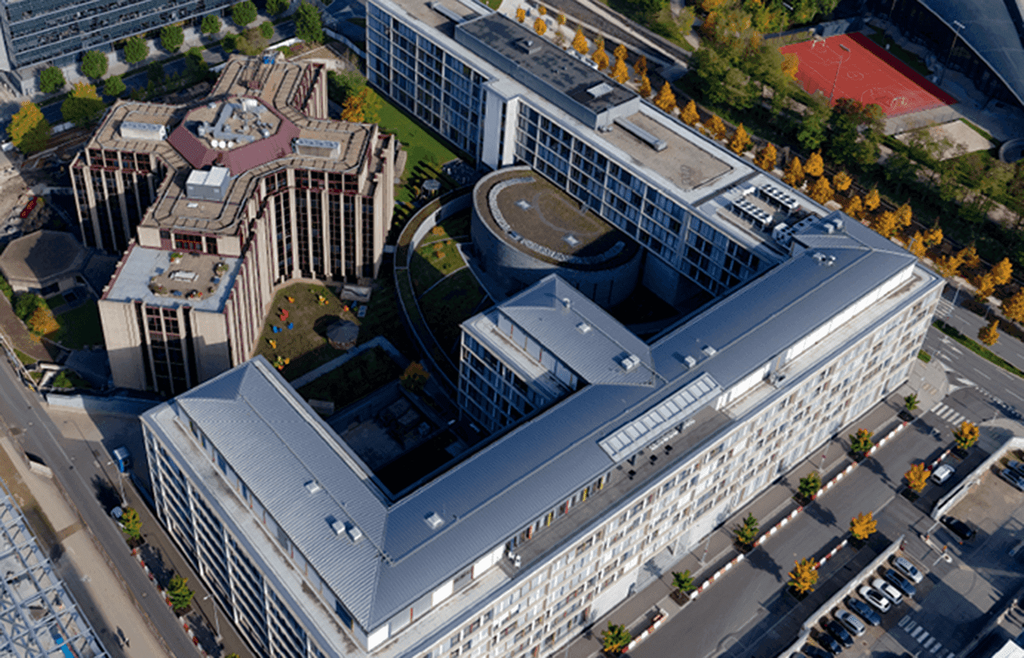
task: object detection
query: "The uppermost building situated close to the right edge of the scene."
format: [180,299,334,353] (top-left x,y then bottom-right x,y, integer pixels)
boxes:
[929,0,1024,130]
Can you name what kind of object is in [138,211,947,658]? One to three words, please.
building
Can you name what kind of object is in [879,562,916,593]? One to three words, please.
car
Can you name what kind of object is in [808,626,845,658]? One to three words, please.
car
